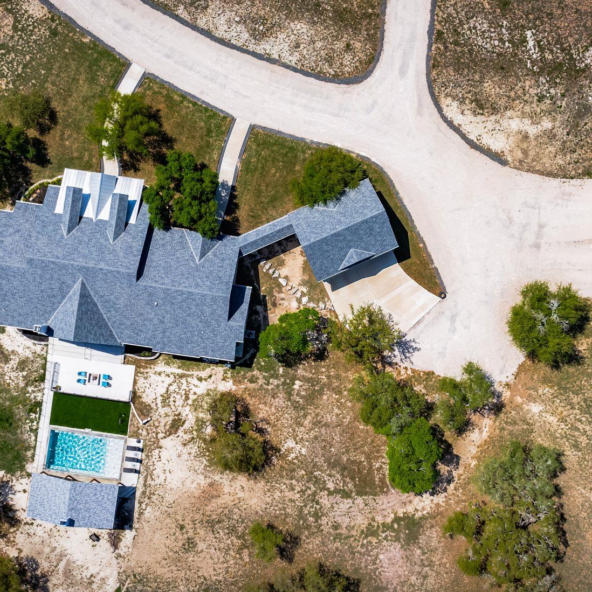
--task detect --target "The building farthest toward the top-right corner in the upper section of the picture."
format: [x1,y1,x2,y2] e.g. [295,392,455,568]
[288,180,399,283]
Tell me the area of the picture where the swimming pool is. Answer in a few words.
bottom left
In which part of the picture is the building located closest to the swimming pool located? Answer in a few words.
bottom left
